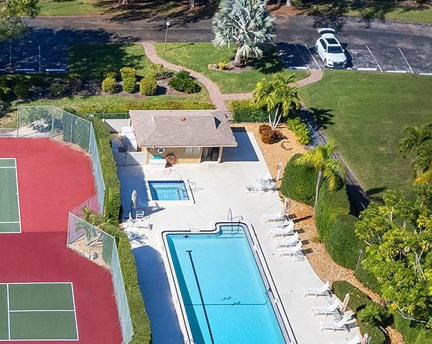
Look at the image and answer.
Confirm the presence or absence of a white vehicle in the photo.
Yes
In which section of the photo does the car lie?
top right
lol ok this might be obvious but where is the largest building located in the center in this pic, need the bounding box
[129,110,237,163]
